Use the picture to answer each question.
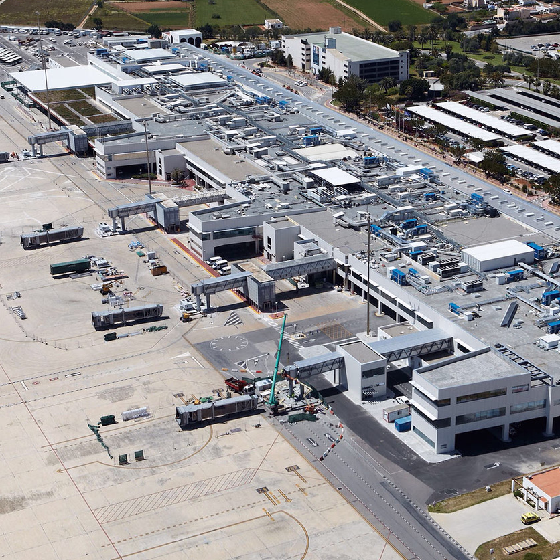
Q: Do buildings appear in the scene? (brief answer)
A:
Yes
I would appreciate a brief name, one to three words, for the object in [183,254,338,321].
jet bridge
